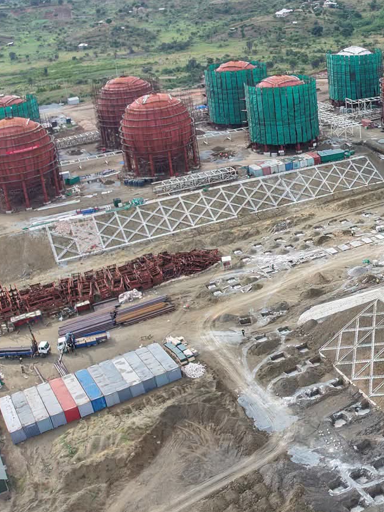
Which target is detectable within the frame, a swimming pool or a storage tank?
storage tank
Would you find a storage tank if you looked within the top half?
Yes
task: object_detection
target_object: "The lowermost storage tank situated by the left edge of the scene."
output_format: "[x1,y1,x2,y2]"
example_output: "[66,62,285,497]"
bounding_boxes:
[0,114,63,209]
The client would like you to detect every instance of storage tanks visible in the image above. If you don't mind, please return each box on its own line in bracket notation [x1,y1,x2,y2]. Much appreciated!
[204,60,265,128]
[326,45,383,107]
[0,92,39,127]
[92,75,156,147]
[245,72,319,152]
[119,89,199,177]
[0,114,63,209]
